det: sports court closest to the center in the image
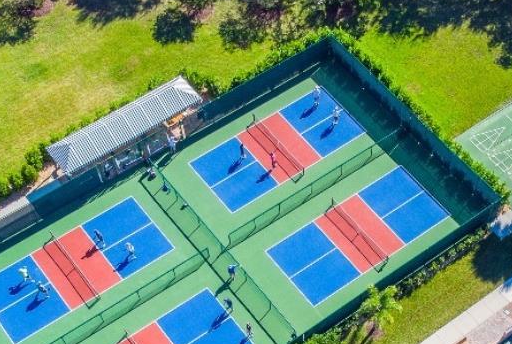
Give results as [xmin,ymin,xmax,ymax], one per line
[190,88,367,213]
